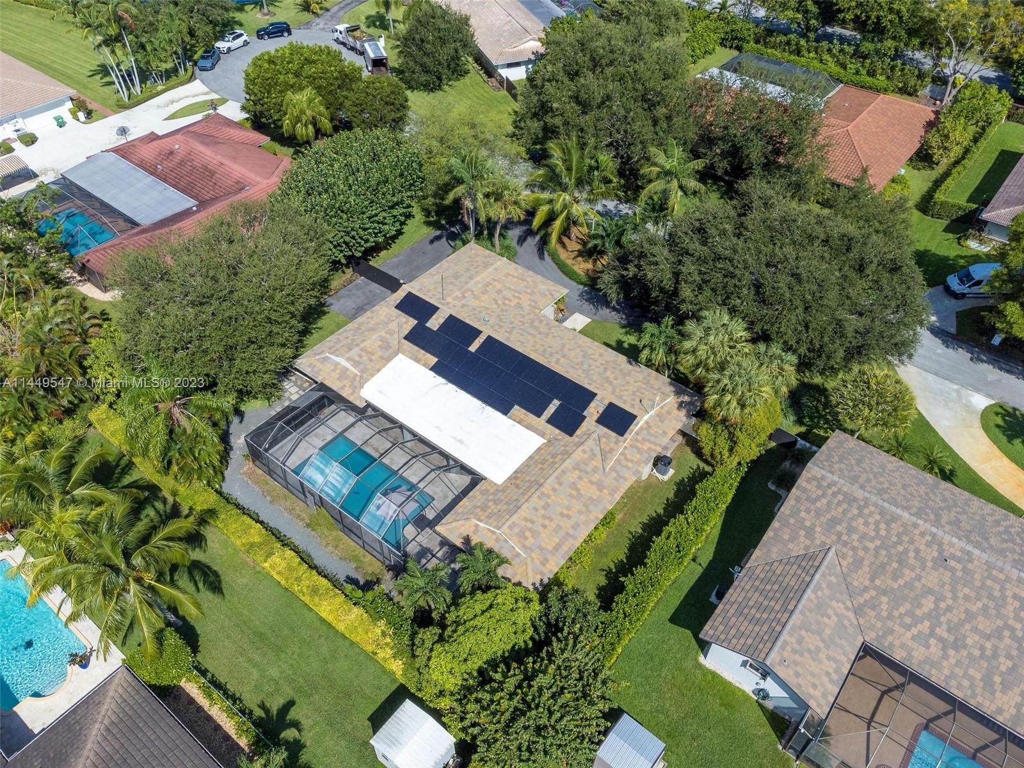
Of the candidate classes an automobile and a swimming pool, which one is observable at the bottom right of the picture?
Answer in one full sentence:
There is a swimming pool at the bottom right of the picture.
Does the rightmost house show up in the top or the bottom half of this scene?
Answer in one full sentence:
The top half of the photo is where the rightmost house is.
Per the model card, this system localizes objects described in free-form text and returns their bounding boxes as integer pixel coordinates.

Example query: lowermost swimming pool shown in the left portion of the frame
[0,549,94,703]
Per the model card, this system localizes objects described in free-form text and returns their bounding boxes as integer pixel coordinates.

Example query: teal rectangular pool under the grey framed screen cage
[291,432,436,556]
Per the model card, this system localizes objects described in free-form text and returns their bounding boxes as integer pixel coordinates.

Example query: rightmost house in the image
[979,152,1024,252]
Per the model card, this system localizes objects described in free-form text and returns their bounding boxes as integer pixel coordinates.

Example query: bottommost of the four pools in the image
[895,724,994,768]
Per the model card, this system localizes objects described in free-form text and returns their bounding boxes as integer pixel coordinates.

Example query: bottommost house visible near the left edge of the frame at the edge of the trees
[0,662,225,768]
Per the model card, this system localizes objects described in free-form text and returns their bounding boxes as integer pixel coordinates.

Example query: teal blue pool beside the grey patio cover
[45,205,120,252]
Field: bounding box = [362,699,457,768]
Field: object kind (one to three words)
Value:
shed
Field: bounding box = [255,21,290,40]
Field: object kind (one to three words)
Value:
car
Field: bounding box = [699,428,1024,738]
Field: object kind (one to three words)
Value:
house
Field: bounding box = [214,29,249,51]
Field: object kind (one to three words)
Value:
car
